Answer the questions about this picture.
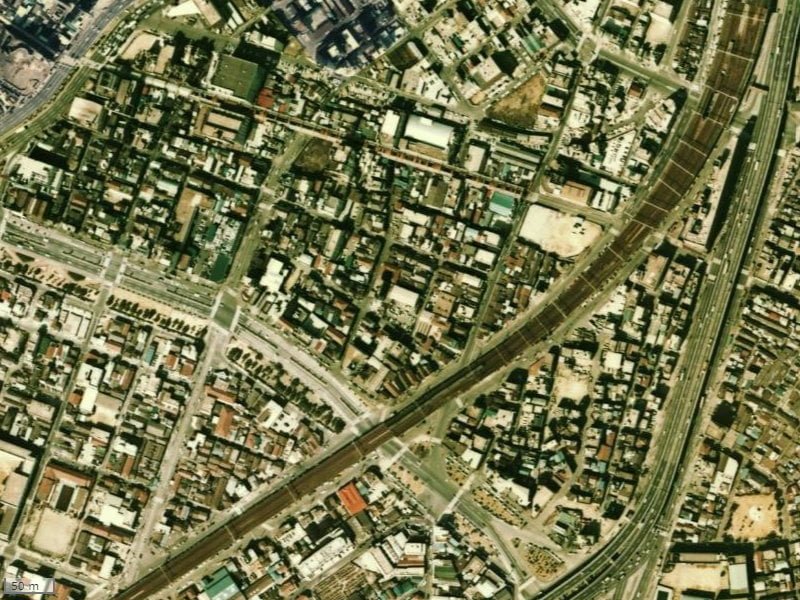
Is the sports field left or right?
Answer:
right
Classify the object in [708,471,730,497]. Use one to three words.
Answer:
building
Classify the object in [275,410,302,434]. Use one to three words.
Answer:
building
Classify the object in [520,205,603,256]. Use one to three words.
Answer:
sports field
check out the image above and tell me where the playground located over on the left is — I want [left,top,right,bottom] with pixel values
[33,508,80,557]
